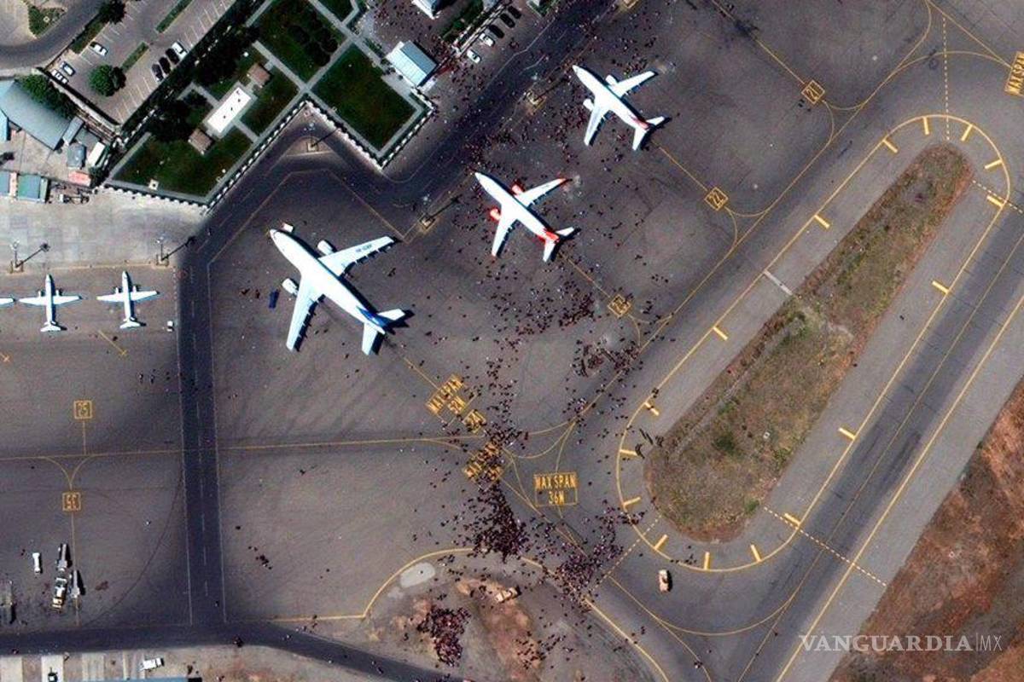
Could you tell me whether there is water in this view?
No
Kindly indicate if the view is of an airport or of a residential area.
airport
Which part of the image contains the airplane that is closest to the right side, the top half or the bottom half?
top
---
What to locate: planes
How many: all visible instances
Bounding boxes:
[475,173,575,261]
[0,300,14,306]
[97,273,159,329]
[573,66,666,149]
[270,230,404,352]
[19,275,81,331]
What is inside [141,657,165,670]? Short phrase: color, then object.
white vehicle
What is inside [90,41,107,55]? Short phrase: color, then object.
white car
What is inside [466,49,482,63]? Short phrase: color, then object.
white car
